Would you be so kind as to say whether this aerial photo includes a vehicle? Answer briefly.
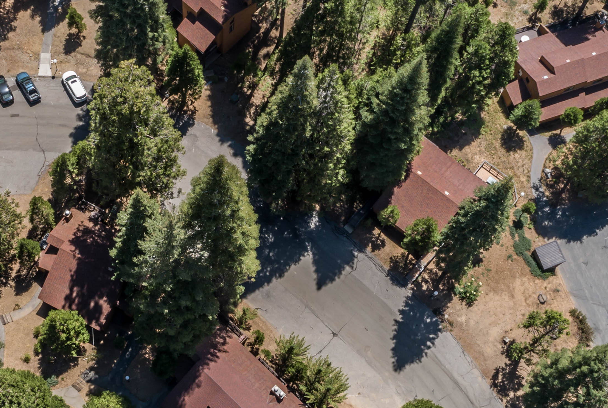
Yes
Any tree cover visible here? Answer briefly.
Yes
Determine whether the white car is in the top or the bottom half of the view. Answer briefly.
top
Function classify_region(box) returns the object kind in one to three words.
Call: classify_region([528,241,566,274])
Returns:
shed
